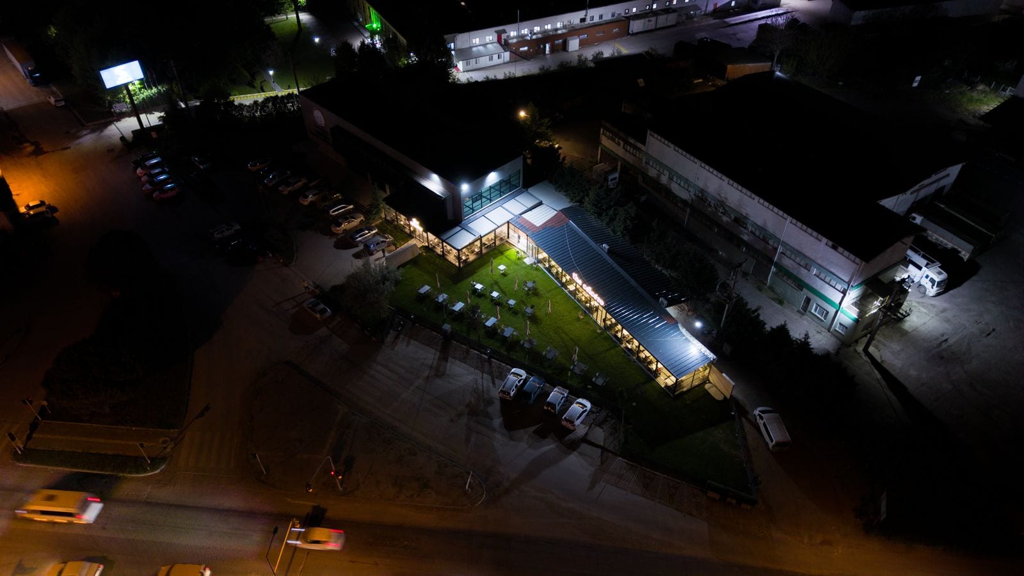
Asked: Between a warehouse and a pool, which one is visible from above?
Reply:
warehouse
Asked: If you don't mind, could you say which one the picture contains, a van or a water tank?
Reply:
van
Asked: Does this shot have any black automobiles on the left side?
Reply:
Yes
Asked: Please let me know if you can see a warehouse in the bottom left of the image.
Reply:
No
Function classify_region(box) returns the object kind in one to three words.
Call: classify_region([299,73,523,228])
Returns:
building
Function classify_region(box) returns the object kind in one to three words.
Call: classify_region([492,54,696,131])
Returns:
shed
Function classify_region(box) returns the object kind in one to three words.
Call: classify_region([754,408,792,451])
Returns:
van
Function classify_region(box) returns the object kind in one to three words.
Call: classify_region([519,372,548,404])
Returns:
car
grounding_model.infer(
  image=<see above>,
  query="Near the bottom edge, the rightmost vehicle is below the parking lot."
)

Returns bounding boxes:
[288,526,342,554]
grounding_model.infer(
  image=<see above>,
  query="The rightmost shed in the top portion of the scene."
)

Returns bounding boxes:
[981,90,1024,141]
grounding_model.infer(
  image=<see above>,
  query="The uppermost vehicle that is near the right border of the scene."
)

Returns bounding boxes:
[914,212,991,265]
